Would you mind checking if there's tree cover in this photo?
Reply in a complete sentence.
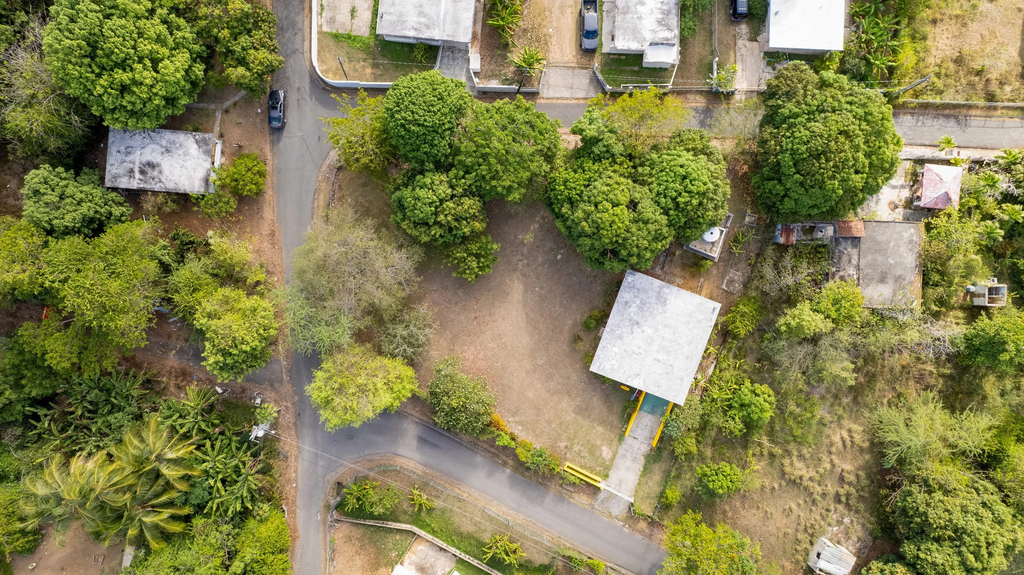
Yes, some tree cover is visible.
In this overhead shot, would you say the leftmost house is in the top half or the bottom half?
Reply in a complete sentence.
You can find the leftmost house in the top half.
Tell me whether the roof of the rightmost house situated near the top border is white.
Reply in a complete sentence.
Yes, the roof of the rightmost house situated near the top border is indeed white.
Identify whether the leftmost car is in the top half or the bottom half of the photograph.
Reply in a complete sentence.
The leftmost car is in the top half of the image.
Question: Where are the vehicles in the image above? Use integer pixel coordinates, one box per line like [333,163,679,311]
[579,0,601,49]
[730,0,749,22]
[265,88,285,128]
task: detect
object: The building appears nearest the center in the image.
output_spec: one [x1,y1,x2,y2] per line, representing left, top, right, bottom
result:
[590,270,721,405]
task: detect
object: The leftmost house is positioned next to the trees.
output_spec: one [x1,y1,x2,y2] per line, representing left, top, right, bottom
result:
[106,128,223,204]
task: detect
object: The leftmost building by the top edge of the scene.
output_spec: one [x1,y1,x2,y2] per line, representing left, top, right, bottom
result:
[376,0,475,52]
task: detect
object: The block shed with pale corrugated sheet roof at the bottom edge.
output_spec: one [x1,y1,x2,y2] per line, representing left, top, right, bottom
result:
[801,532,860,575]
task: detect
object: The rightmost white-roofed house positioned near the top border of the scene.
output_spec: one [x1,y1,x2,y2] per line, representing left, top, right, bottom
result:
[760,0,844,62]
